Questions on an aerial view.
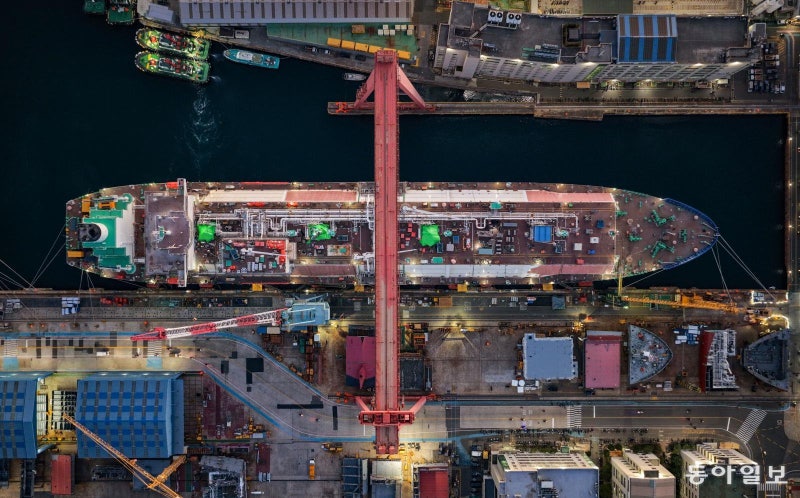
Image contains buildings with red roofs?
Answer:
Yes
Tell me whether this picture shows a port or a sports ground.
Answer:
port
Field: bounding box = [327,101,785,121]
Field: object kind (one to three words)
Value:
pier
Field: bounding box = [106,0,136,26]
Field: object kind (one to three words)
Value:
ship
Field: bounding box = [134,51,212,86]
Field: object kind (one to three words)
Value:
boat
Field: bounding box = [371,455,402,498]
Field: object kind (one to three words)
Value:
building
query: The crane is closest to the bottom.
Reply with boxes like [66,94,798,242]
[62,415,189,498]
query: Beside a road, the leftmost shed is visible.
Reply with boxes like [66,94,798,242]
[0,368,37,459]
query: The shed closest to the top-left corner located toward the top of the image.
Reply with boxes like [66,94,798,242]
[146,3,175,26]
